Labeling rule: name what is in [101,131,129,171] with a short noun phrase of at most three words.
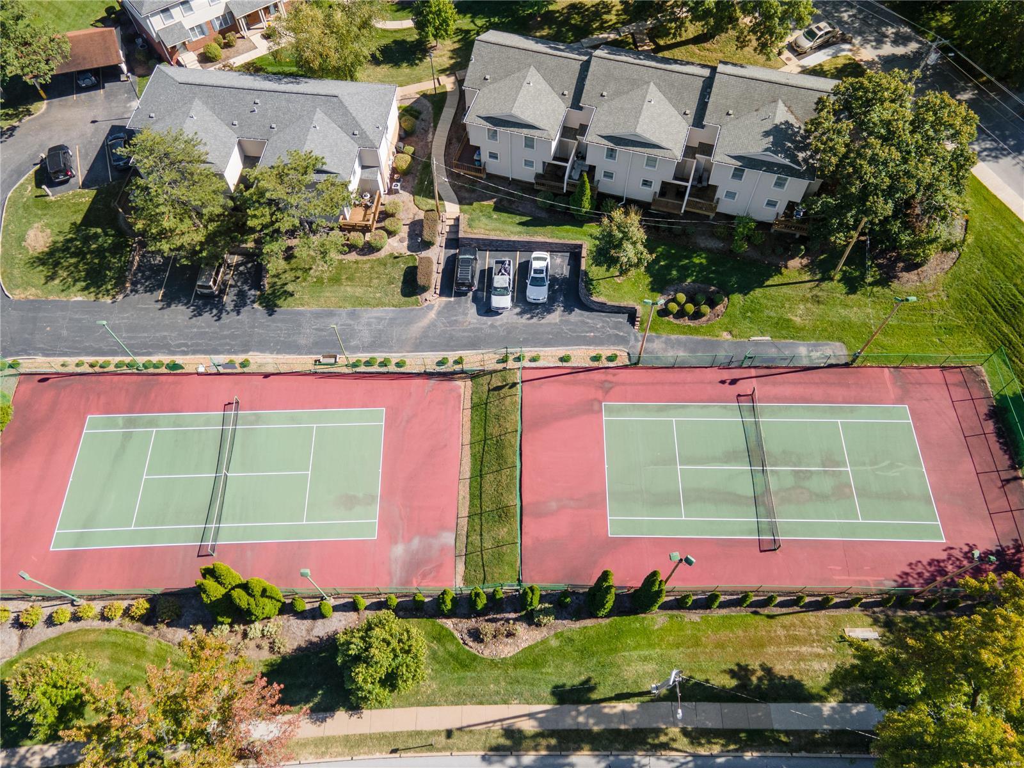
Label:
car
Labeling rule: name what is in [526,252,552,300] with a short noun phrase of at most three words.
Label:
car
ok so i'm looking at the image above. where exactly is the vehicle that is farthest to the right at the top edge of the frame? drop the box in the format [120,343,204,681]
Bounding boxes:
[794,25,841,55]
